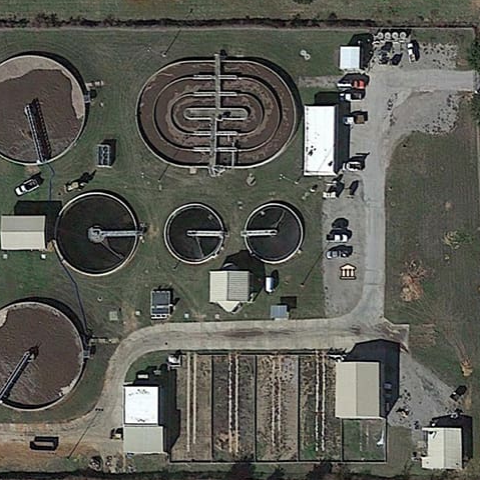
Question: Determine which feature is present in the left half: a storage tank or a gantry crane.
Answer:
storage tank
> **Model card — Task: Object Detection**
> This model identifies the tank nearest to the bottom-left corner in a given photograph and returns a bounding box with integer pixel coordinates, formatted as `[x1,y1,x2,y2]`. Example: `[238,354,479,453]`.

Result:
[0,301,92,410]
